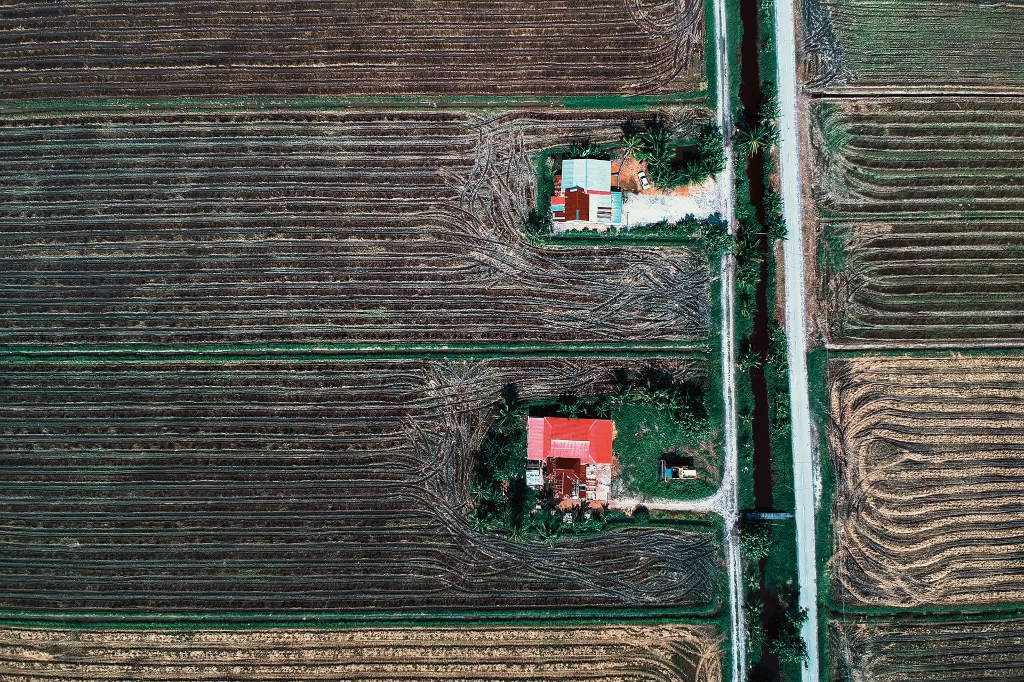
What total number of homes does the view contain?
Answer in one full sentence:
In total, 2 homes can be seen.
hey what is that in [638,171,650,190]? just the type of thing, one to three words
vehicle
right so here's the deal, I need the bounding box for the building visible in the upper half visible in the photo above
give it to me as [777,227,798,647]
[549,159,622,228]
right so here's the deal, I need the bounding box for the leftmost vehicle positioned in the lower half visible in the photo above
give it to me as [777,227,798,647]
[657,459,696,482]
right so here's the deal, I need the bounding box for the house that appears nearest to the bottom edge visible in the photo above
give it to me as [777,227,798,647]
[526,417,612,500]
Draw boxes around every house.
[549,159,622,228]
[526,417,612,500]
